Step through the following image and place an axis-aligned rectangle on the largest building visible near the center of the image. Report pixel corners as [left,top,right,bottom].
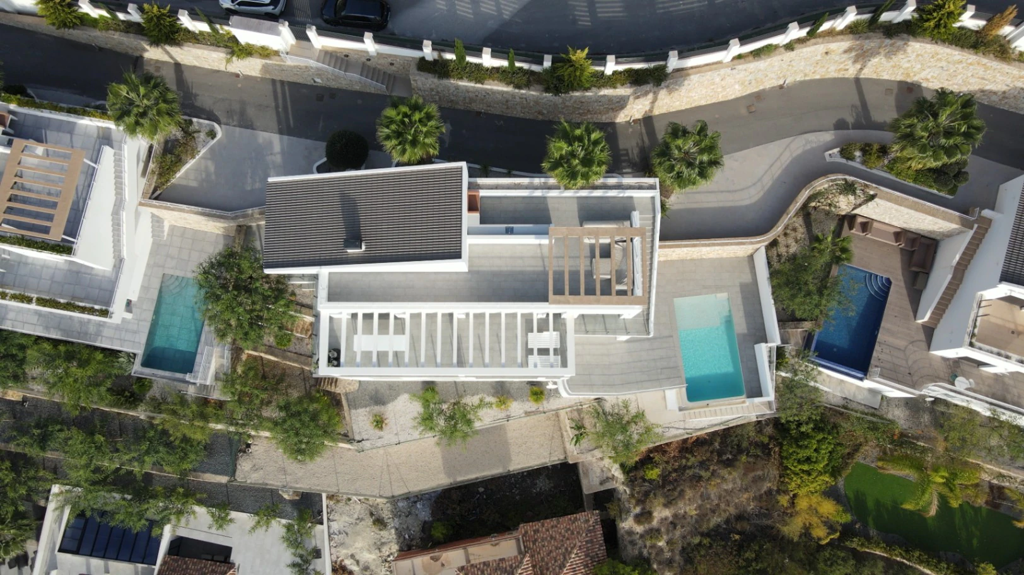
[264,161,661,381]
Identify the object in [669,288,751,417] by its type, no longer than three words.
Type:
swimming pool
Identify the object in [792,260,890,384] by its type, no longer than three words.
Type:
swimming pool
